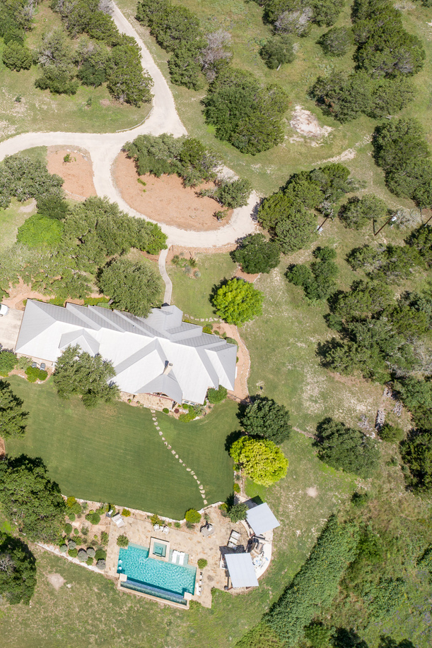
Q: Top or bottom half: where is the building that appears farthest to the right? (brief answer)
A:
bottom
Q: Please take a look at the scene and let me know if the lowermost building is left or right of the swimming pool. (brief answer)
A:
to its right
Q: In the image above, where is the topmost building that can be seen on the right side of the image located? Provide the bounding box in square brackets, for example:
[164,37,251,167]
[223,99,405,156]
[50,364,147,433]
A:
[243,503,280,537]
